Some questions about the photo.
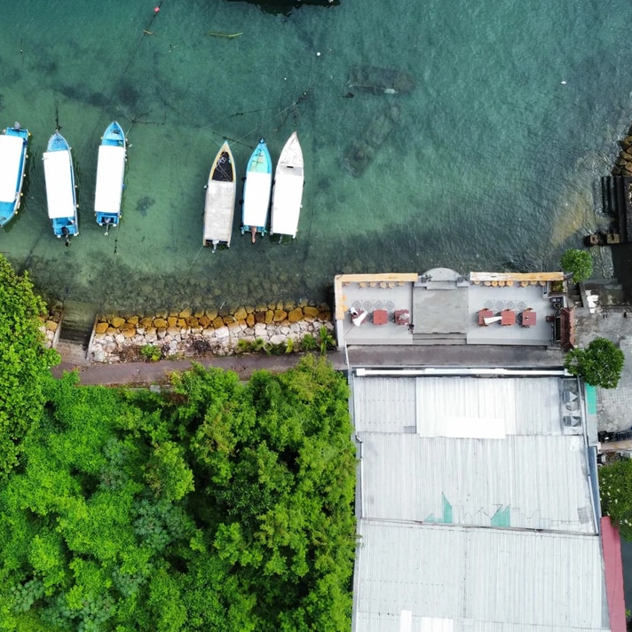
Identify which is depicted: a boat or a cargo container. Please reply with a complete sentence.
The image shows a boat.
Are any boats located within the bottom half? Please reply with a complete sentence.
No, I can find no boat within the bottom half.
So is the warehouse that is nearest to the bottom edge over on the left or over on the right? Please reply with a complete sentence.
You can find the warehouse that is nearest to the bottom edge on the right side of the picture.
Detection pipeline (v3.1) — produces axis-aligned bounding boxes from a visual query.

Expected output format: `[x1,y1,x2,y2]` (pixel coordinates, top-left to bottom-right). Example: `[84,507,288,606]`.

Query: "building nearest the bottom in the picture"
[343,366,624,632]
